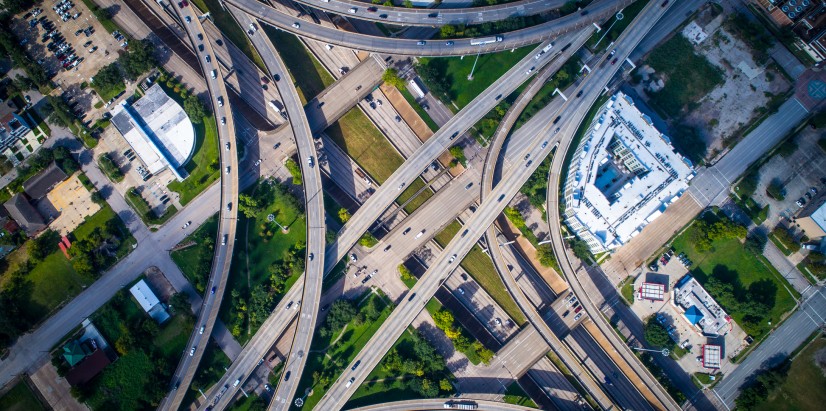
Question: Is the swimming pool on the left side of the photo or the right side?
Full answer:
It is on the right.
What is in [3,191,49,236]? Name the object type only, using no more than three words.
house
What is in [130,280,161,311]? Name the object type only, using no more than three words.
shed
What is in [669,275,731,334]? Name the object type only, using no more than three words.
building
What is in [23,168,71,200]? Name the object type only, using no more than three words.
house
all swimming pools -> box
[595,165,620,193]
